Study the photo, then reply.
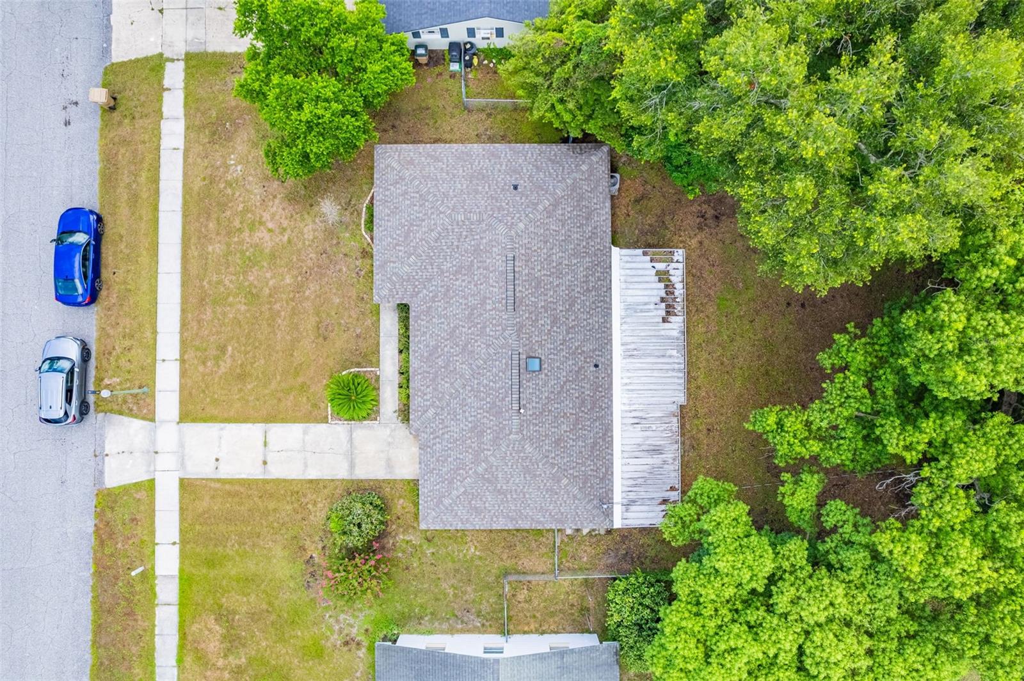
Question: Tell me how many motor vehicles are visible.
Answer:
2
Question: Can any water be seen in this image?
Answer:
No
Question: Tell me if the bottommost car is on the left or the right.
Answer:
left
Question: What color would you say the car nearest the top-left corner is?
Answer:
blue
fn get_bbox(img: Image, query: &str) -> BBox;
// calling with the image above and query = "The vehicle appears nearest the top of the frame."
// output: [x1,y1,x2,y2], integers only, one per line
[48,208,104,306]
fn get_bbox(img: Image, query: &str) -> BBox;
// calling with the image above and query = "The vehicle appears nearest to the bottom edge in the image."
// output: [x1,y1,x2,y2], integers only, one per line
[33,336,90,428]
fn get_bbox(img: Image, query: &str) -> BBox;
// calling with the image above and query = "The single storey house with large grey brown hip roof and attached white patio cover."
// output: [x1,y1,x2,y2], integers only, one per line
[372,142,615,531]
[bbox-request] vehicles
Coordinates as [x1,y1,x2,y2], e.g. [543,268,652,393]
[48,208,104,306]
[33,336,90,428]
